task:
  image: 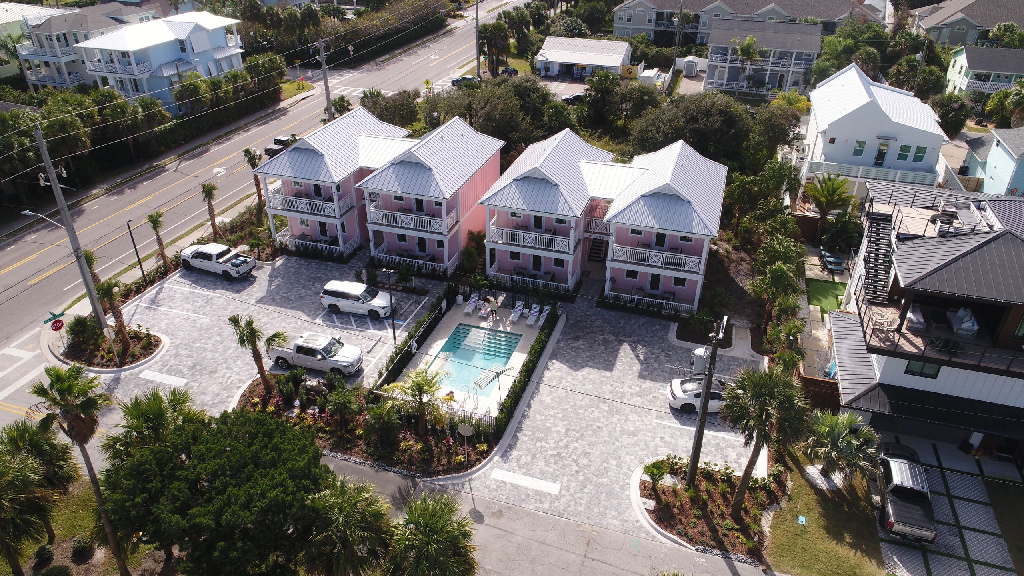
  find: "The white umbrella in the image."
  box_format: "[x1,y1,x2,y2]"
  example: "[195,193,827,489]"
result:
[479,367,519,406]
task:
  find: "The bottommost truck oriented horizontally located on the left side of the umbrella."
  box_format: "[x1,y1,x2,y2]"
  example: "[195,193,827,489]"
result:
[268,330,371,382]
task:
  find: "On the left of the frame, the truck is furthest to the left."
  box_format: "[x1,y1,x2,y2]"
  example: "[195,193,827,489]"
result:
[174,240,257,279]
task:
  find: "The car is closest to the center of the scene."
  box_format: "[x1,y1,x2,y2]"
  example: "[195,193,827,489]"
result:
[318,277,397,320]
